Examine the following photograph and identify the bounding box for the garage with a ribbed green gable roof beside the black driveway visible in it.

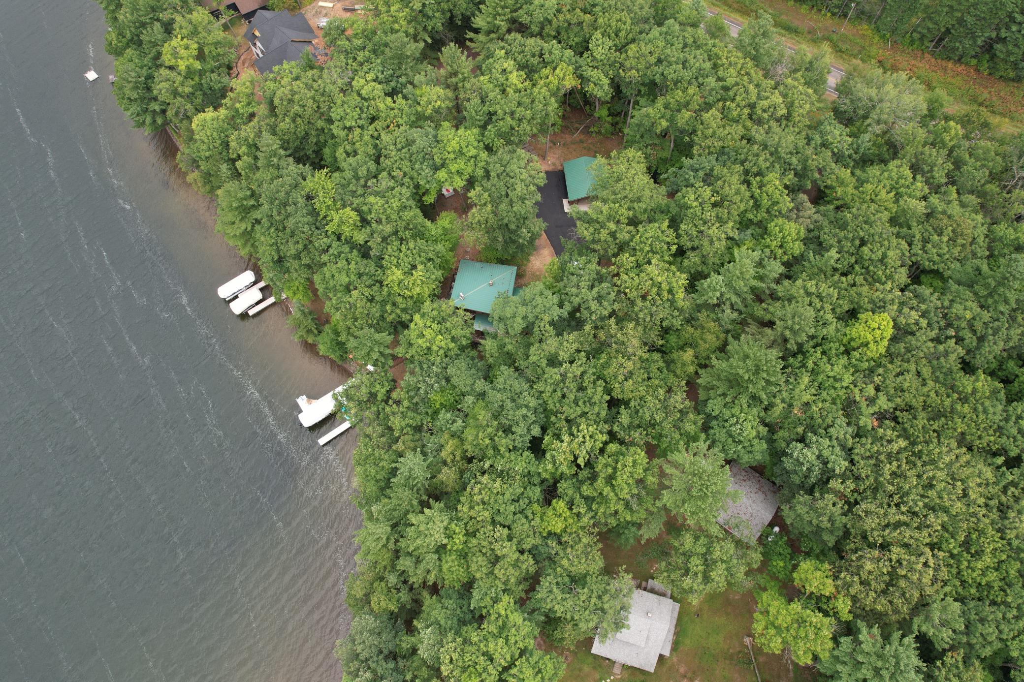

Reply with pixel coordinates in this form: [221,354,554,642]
[563,154,606,209]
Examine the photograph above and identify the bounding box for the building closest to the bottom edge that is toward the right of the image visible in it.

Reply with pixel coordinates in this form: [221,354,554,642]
[591,576,682,674]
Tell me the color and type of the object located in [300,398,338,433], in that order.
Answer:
white boat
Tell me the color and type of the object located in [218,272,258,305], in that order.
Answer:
white boat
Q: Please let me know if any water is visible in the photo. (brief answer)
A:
Yes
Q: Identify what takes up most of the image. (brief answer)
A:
trees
